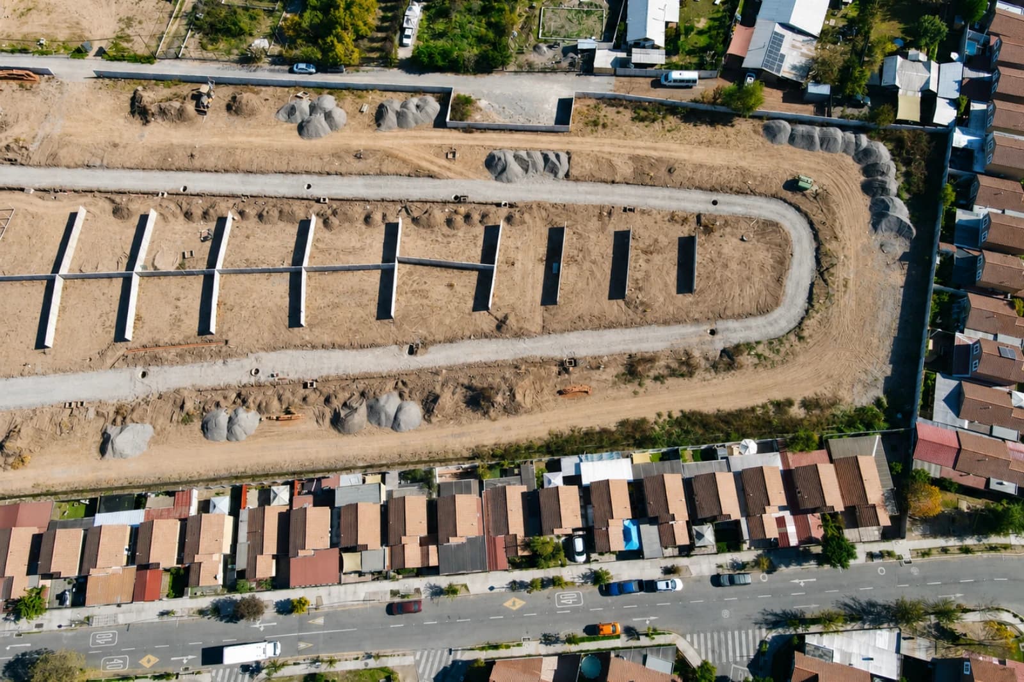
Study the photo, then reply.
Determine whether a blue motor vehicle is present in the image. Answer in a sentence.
Yes, this view includes a blue motor vehicle.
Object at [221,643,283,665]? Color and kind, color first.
white vehicle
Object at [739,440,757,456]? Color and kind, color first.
white umbrella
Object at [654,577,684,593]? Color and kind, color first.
white car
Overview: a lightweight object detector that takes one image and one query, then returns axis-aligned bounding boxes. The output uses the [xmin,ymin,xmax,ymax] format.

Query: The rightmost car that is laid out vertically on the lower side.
[572,534,586,564]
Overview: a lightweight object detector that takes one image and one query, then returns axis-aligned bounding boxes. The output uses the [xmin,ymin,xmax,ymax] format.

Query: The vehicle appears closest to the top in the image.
[402,26,414,46]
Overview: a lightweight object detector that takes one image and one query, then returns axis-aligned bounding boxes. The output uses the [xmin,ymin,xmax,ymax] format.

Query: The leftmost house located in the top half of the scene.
[627,0,665,53]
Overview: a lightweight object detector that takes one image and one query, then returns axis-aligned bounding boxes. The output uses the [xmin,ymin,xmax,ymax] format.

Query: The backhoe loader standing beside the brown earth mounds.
[196,80,215,114]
